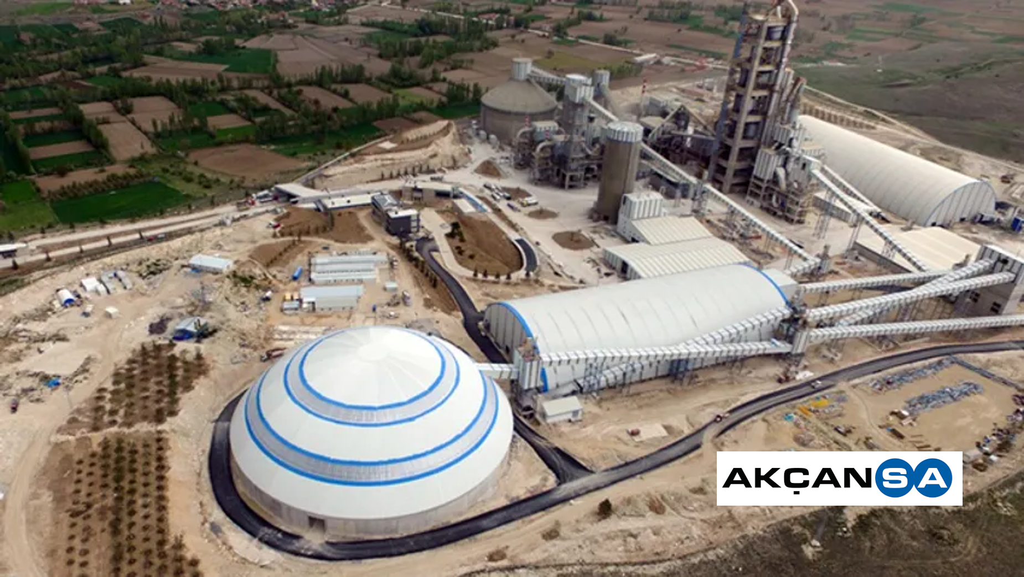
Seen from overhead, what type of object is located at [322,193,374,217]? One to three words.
building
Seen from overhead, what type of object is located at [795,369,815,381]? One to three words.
vehicle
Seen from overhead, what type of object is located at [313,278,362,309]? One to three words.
building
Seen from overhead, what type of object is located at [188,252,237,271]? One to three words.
shed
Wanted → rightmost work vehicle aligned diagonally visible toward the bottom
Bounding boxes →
[998,400,1022,418]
